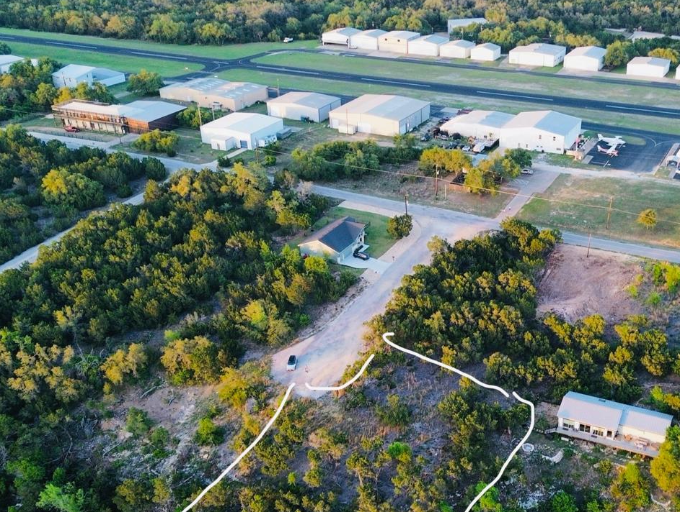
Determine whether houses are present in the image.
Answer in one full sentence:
Yes, I can see a house in this picture.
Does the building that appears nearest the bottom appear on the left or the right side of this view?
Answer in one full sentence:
You can find the building that appears nearest the bottom on the right side of the picture.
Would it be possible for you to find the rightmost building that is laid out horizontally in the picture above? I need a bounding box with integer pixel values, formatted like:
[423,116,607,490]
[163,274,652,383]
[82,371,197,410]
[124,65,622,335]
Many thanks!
[627,55,672,77]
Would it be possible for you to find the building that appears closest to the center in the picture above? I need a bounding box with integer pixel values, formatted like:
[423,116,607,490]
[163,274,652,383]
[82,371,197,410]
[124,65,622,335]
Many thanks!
[297,218,379,263]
